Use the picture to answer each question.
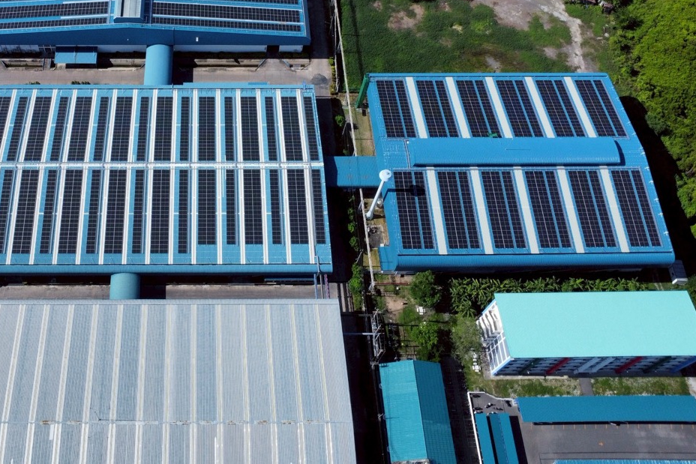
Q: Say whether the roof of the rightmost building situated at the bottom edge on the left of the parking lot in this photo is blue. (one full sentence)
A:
Yes, blue is the color of the roof of the rightmost building situated at the bottom edge on the left of the parking lot.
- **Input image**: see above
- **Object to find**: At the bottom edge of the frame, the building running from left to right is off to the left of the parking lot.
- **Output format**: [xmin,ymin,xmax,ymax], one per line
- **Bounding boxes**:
[0,301,356,464]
